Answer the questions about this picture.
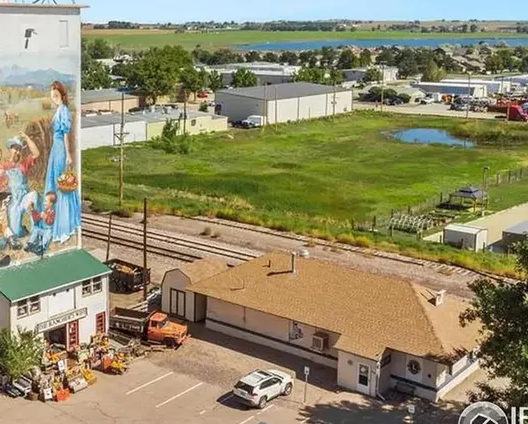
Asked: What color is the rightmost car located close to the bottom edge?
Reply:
white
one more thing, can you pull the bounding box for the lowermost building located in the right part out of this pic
[186,252,502,405]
